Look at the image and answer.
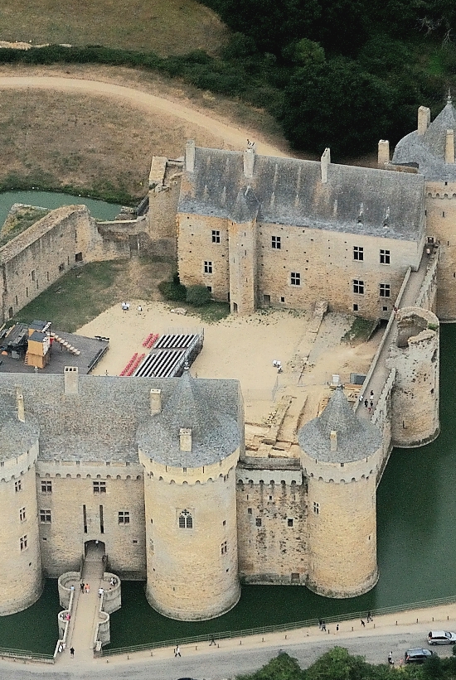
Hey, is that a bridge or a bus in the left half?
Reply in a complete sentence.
The one visible in the left half is a bridge.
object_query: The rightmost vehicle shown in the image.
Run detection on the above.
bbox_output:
[426,628,456,646]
